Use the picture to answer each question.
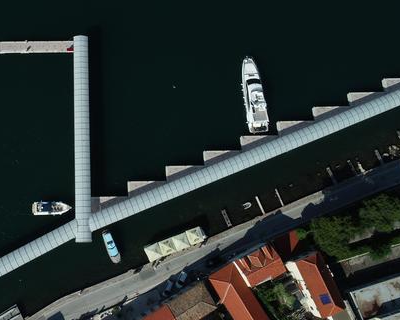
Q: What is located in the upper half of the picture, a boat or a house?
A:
boat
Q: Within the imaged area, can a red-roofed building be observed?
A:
Yes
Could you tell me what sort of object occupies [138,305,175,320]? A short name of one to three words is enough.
house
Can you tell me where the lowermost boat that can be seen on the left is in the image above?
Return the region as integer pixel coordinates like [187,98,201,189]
[102,229,120,264]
